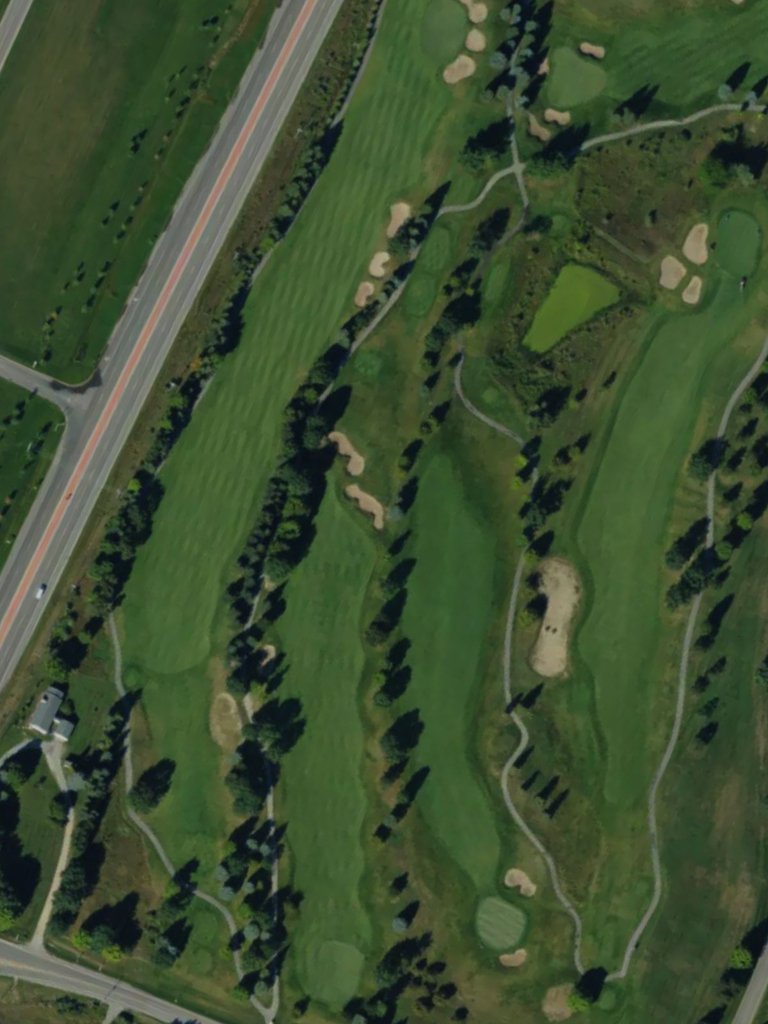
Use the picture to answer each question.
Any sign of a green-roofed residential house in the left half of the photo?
No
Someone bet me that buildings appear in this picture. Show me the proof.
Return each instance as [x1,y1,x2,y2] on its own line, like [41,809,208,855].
[31,687,66,734]
[55,717,74,739]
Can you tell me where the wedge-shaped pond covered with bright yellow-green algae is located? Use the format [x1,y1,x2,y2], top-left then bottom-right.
[523,261,619,354]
